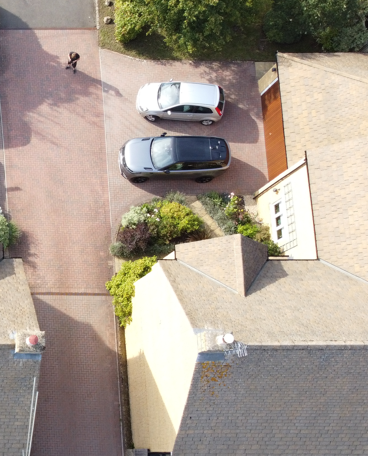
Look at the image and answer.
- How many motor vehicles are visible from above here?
two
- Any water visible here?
No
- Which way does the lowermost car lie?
from left to right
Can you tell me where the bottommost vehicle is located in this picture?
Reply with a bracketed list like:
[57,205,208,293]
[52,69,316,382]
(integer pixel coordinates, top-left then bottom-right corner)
[117,131,232,184]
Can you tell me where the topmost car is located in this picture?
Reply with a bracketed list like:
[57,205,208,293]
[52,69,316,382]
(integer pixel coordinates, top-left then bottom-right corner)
[136,77,225,127]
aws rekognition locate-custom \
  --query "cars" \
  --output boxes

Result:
[117,131,232,184]
[136,77,225,127]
